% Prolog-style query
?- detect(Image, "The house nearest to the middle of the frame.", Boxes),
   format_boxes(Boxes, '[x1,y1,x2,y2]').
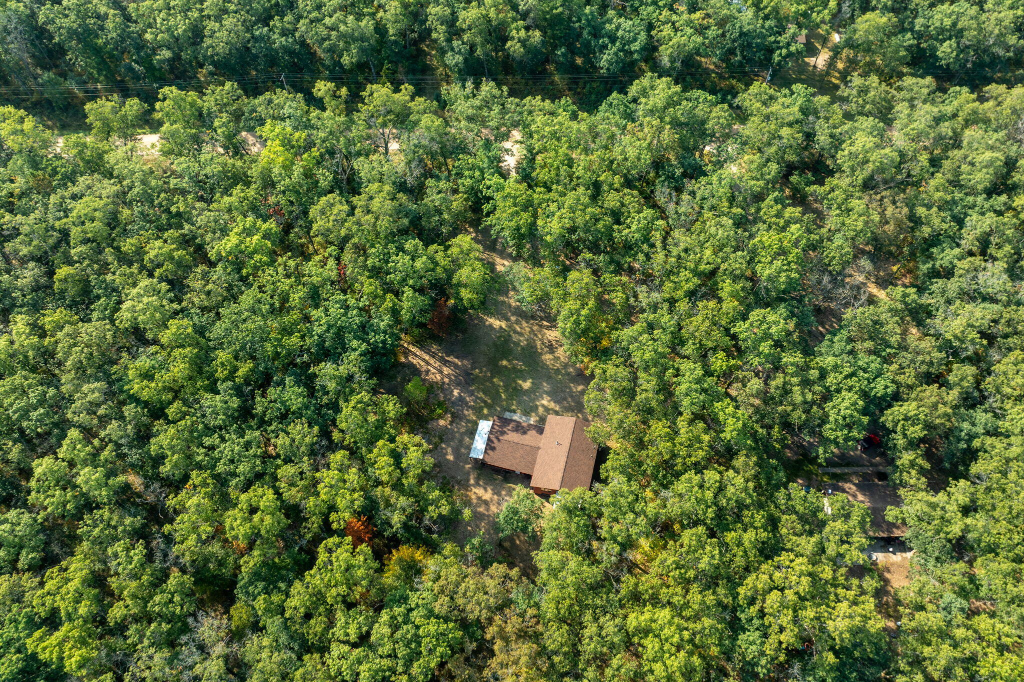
[469,415,600,501]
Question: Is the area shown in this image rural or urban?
rural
